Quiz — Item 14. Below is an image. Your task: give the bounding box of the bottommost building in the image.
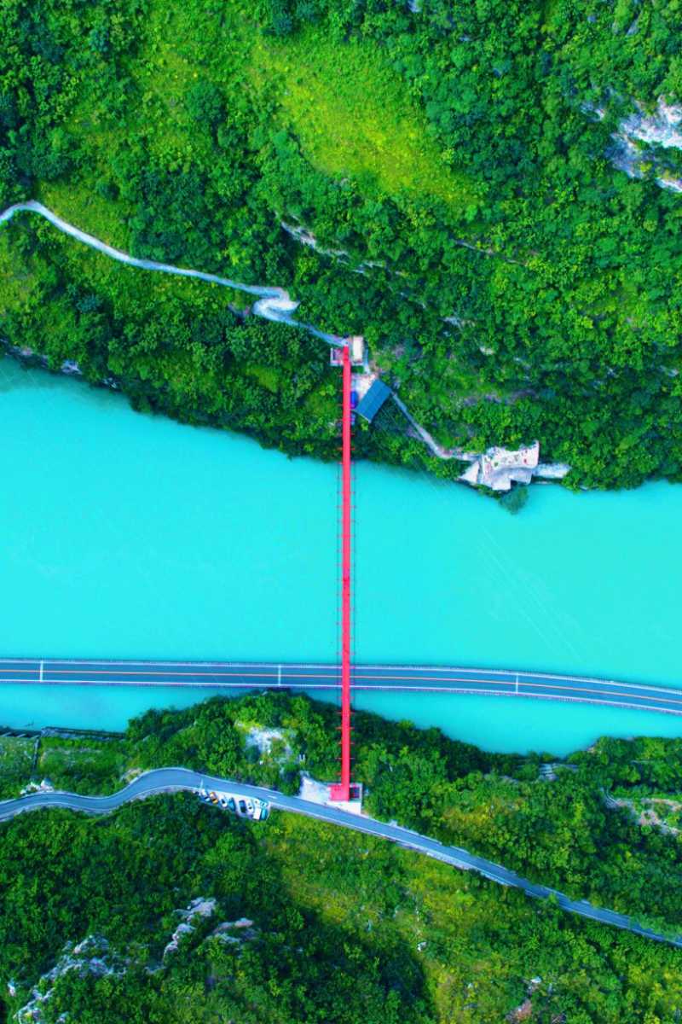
[354,380,392,422]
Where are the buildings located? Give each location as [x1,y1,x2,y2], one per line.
[353,337,363,362]
[354,380,392,422]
